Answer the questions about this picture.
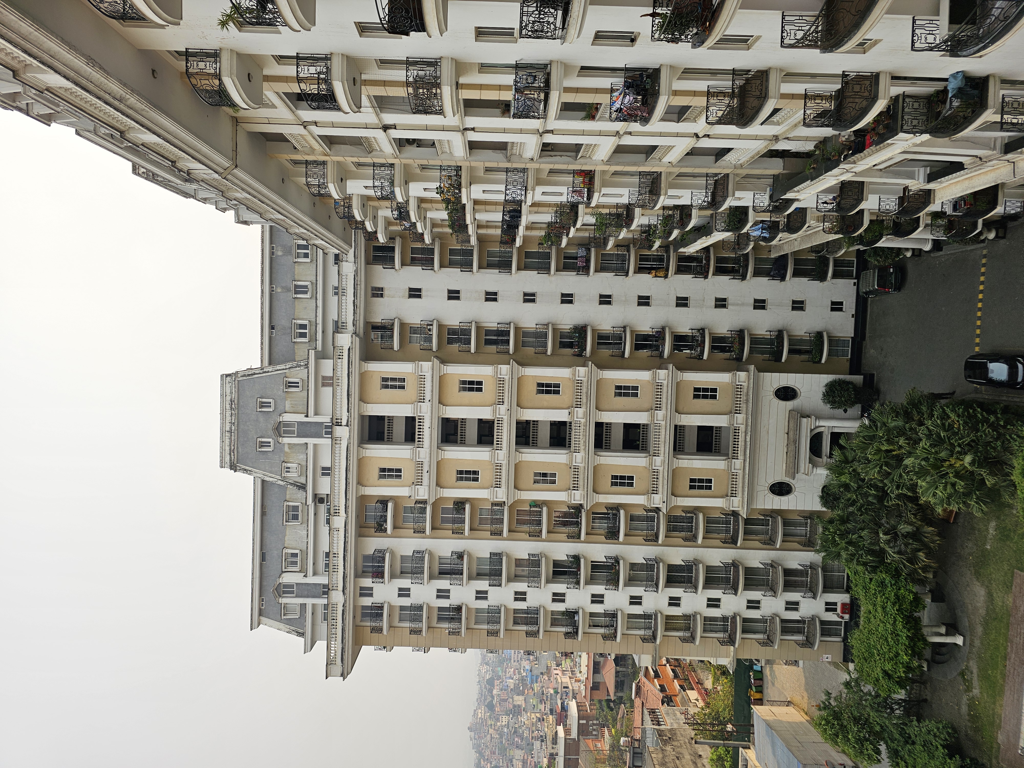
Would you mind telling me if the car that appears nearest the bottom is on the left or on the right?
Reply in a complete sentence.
The car that appears nearest the bottom is on the right side of the image.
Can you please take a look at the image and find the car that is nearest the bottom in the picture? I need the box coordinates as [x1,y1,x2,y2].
[964,352,1024,392]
